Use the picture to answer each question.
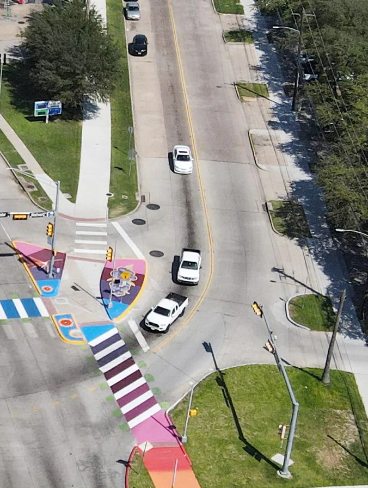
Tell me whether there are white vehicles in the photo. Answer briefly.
Yes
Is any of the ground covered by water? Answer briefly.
No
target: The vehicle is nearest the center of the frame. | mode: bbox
[177,243,204,281]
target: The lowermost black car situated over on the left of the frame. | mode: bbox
[132,34,149,53]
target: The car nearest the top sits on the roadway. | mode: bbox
[126,0,143,17]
